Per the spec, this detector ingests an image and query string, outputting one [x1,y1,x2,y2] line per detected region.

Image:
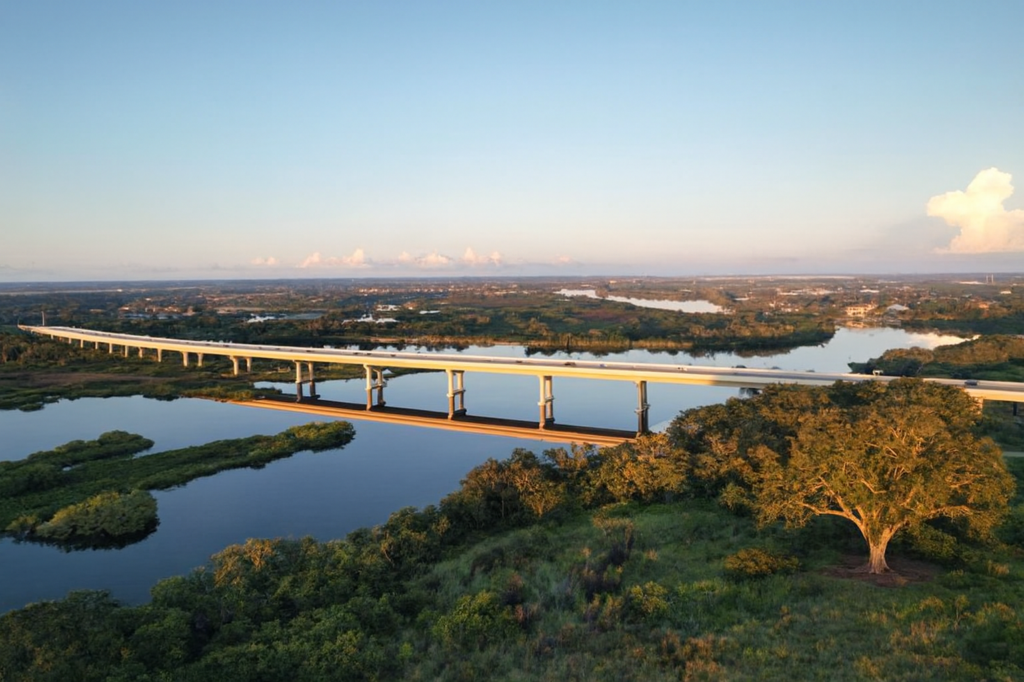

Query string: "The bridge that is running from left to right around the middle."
[23,326,1024,410]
